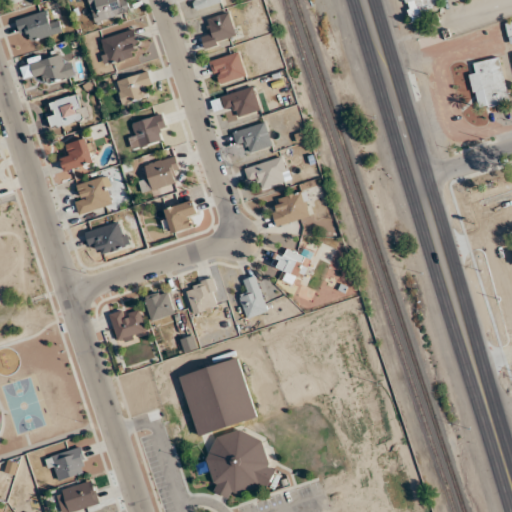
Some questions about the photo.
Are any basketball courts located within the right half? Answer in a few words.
No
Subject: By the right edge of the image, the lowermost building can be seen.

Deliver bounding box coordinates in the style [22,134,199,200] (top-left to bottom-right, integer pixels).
[467,62,508,109]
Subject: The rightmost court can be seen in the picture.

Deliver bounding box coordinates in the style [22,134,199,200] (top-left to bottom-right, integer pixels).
[2,378,46,434]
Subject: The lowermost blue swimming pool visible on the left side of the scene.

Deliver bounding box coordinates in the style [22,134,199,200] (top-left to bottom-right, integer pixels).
[100,145,114,168]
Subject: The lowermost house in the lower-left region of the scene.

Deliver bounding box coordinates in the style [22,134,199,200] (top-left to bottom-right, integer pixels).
[56,481,99,512]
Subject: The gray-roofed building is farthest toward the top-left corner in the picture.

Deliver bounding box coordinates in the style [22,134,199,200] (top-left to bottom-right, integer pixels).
[16,12,62,40]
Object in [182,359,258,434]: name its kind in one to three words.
building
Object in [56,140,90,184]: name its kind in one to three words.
house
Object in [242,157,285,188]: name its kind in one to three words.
house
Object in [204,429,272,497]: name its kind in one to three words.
building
